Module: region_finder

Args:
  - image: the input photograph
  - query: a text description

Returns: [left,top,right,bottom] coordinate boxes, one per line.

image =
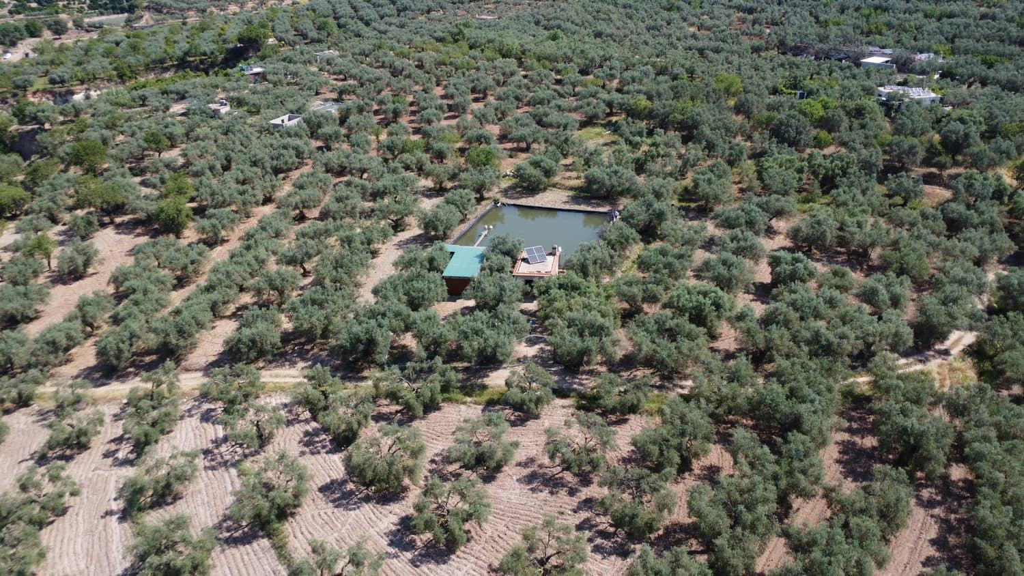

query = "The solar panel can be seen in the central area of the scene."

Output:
[526,246,548,267]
